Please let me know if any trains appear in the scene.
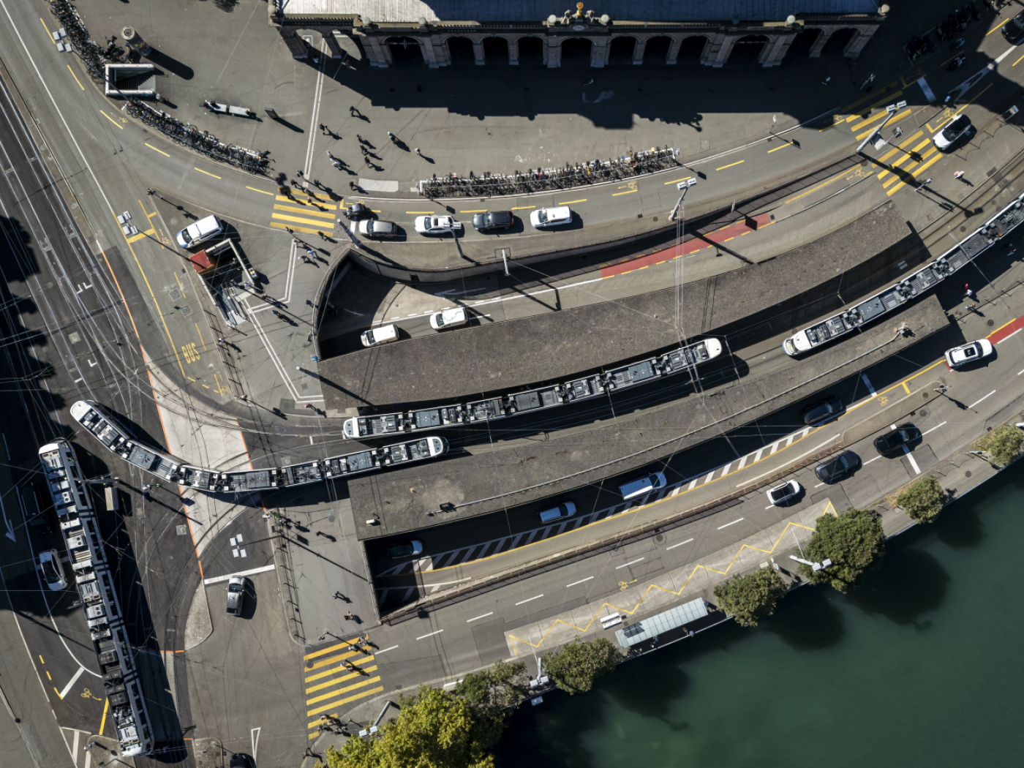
Yes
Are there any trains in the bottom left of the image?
Yes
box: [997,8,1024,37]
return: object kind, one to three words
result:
car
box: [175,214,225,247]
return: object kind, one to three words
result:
vehicle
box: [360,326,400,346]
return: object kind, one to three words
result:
vehicle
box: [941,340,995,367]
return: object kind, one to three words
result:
car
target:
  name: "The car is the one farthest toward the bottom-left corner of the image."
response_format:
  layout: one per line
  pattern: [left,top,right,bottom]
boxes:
[37,547,67,592]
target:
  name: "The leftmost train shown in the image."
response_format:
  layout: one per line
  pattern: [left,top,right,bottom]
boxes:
[42,441,154,754]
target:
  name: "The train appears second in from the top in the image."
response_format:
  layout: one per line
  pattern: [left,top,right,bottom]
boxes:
[347,336,721,438]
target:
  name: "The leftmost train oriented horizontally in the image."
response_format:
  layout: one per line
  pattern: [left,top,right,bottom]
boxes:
[74,402,451,491]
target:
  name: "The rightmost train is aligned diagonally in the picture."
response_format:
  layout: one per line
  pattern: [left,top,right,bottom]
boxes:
[775,194,1024,359]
